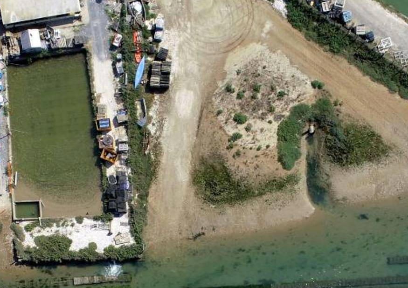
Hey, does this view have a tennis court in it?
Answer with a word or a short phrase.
No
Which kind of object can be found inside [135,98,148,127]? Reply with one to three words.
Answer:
boat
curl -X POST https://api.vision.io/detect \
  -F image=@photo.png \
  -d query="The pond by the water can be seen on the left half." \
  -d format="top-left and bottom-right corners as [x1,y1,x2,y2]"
[6,50,105,220]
